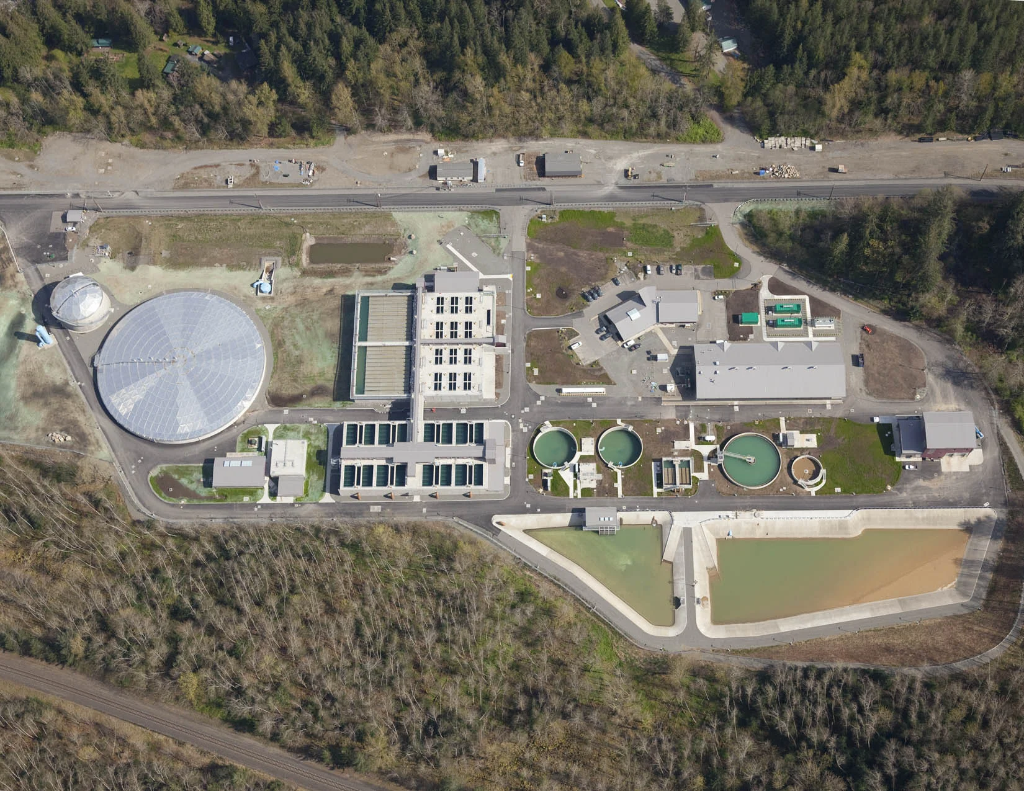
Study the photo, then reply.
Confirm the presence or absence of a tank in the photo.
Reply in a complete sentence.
Yes, the photo shows a tank.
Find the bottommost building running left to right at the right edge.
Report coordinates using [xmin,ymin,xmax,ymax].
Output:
[878,411,977,458]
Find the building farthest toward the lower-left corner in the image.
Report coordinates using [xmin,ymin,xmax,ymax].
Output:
[213,457,267,489]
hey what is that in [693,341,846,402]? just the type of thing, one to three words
building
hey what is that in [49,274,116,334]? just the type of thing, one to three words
storage tank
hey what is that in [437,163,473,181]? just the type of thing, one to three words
building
